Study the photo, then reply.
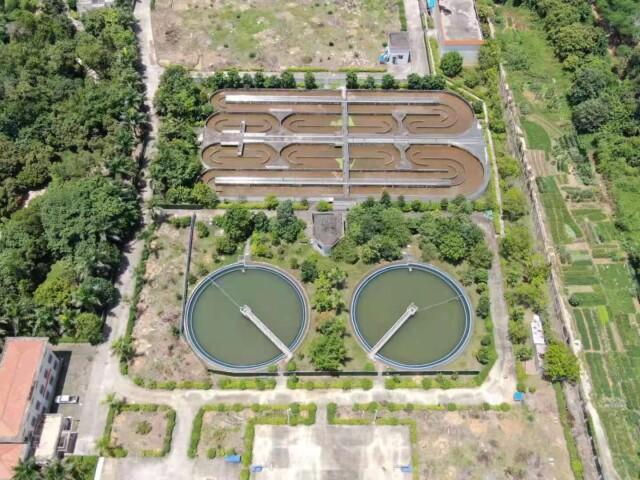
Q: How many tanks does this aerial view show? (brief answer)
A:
2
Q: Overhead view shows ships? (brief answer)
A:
No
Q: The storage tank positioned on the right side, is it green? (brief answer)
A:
Yes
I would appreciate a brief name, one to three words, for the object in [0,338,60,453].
building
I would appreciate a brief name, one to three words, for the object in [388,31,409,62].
shed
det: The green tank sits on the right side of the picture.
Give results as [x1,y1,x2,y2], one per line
[349,256,474,373]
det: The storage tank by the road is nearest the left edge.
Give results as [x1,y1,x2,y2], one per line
[184,254,311,374]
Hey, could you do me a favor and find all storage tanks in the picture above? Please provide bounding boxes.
[184,254,311,374]
[349,256,474,373]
